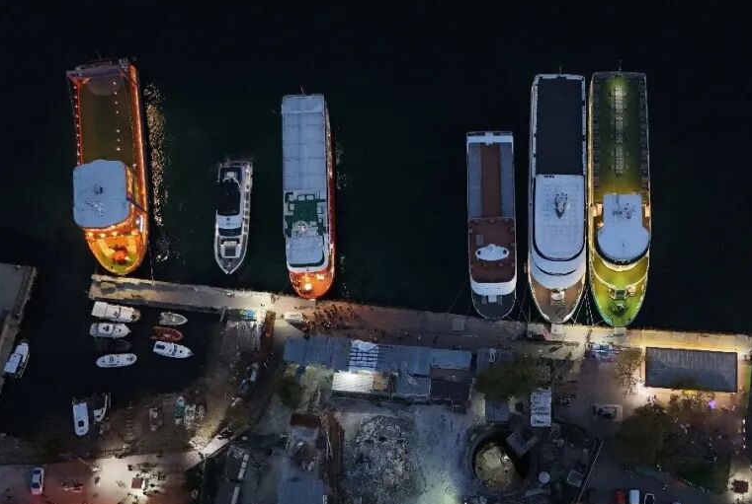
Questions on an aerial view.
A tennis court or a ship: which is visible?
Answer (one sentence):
There is a ship in the scene.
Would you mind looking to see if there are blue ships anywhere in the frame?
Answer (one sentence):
Yes, you can see a blue ship in this photo.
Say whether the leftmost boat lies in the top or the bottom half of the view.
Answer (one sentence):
You can find the leftmost boat in the bottom half.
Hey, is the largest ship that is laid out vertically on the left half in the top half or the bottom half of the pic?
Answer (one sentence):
It is in the top half that the largest ship that is laid out vertically on the left half appears.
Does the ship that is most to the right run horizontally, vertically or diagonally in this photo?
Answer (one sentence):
What the image shows is the ship that is most to the right lying vertically.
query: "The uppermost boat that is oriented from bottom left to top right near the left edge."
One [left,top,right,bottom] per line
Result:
[0,344,30,379]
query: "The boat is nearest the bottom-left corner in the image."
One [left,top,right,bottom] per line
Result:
[68,398,90,435]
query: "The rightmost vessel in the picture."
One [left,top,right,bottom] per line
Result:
[581,70,650,338]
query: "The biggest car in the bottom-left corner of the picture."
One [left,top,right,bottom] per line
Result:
[28,469,45,494]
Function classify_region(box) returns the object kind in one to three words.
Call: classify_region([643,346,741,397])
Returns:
building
